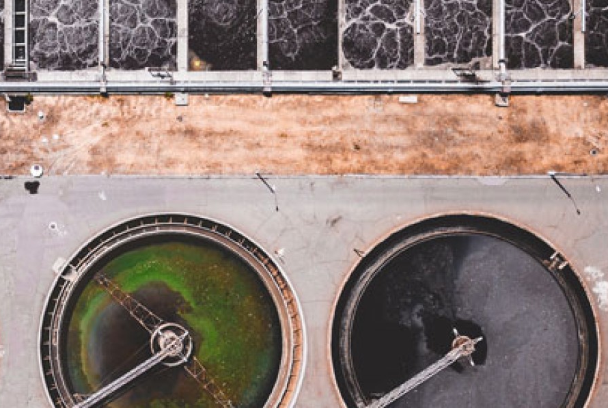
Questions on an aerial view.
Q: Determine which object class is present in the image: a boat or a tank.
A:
tank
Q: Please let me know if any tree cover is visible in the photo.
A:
No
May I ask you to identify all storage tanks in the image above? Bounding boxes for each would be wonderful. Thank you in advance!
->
[39,214,306,408]
[331,213,599,408]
